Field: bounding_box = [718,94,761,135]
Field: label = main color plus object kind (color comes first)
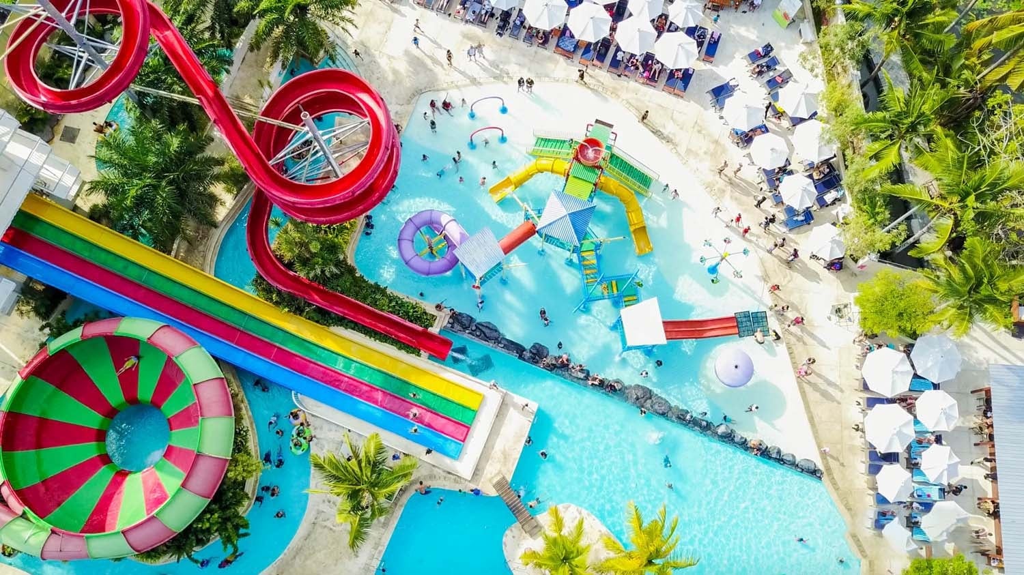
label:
white umbrella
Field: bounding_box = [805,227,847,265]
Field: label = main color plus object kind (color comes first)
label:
white umbrella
